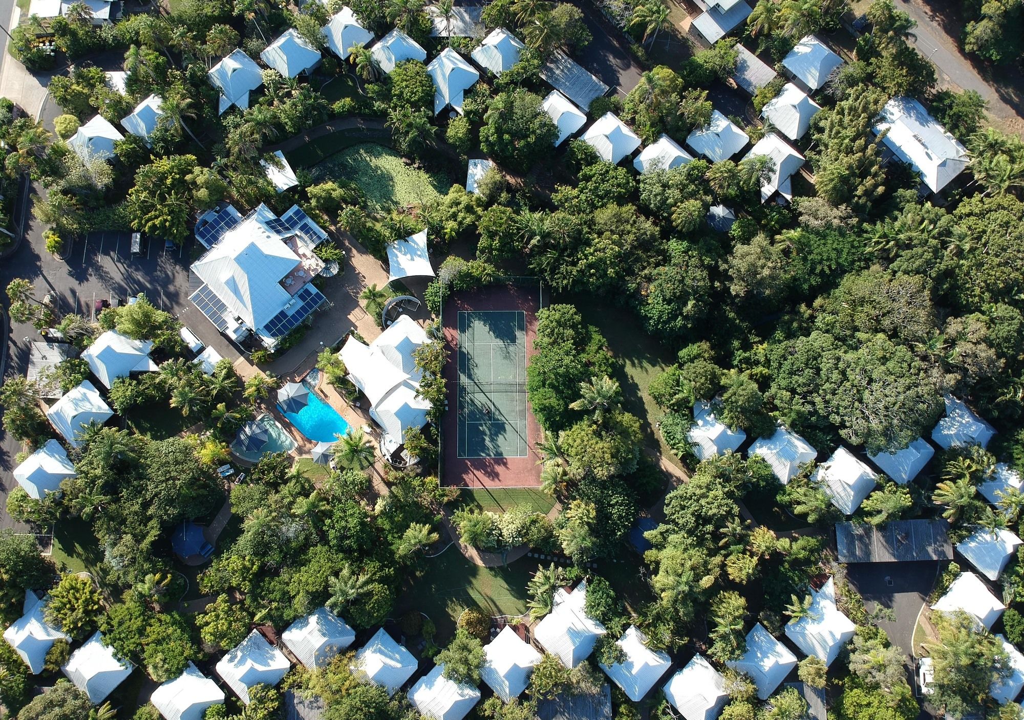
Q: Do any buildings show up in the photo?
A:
Yes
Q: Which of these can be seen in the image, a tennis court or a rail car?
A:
tennis court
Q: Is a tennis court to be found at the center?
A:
Yes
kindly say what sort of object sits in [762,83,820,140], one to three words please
building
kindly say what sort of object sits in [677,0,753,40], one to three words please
house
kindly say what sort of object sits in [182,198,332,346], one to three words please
building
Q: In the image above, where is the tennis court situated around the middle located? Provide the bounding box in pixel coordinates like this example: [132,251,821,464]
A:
[440,279,541,487]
